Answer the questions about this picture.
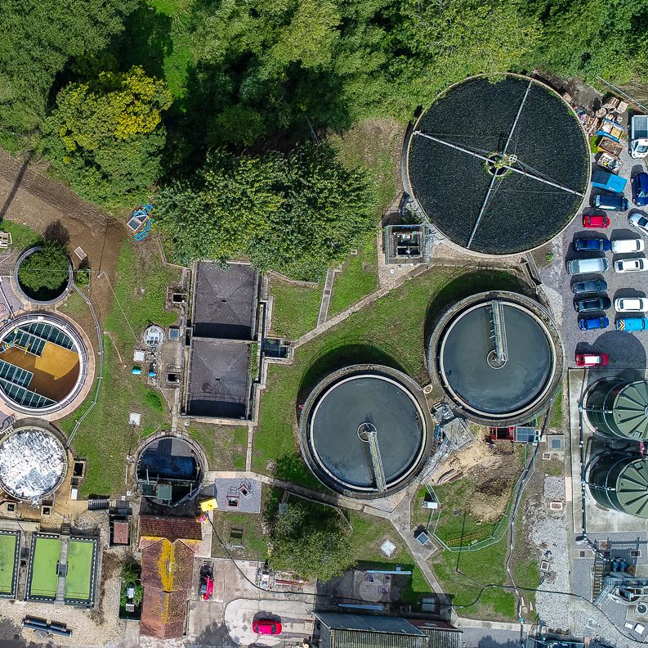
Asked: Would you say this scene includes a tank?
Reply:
Yes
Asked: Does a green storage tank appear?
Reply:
Yes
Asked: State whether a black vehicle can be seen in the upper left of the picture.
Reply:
No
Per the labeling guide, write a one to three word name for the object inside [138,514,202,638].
house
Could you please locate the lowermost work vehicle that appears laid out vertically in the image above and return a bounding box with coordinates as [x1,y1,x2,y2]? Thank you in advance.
[196,558,214,600]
